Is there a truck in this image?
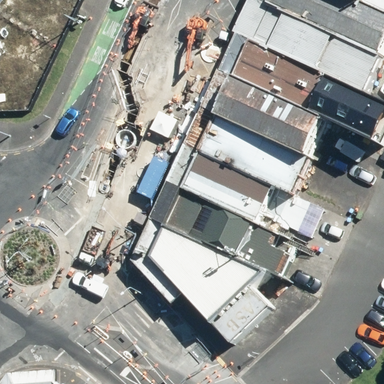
Yes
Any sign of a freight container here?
Yes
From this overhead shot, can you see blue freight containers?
Yes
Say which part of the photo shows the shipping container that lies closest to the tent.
center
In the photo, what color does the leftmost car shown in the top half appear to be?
blue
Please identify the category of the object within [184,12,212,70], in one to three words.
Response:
work vehicle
